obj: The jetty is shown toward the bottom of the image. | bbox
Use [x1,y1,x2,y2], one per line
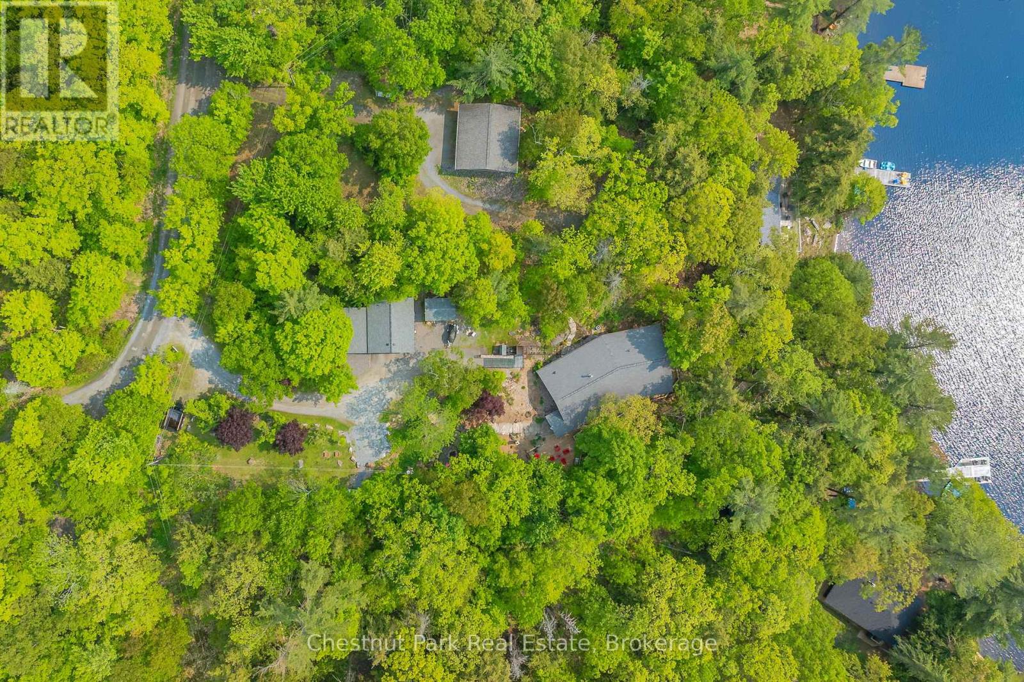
[915,456,993,485]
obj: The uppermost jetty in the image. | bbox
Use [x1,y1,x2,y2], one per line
[881,64,928,89]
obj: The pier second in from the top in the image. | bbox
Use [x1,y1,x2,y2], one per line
[848,165,912,188]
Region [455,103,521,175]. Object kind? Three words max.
house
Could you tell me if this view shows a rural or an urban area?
rural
